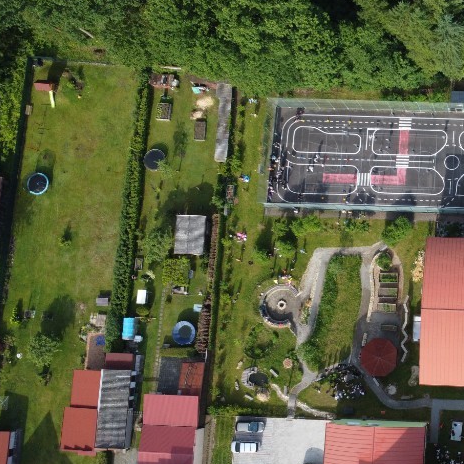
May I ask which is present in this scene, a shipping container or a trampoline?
trampoline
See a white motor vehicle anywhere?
Yes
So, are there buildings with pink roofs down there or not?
Yes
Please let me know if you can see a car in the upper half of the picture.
No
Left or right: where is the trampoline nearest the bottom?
left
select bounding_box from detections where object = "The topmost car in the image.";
[234,419,268,435]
